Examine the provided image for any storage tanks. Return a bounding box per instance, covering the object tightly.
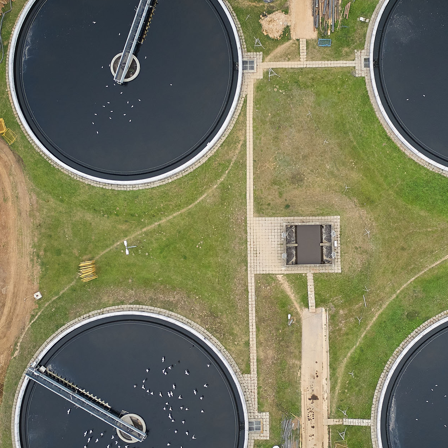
[369,0,448,172]
[15,311,249,448]
[8,0,243,184]
[377,316,448,448]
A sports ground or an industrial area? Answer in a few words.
industrial area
